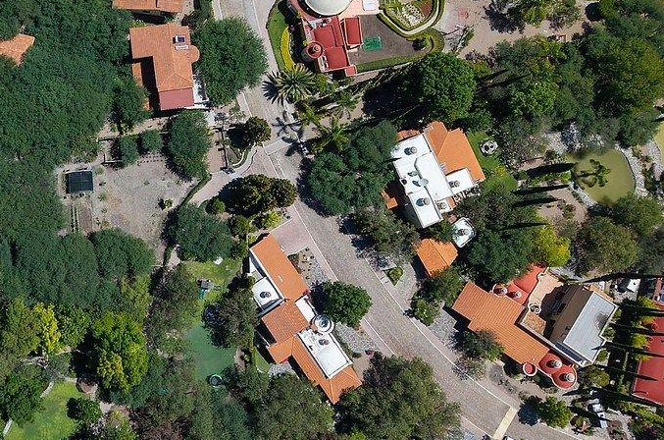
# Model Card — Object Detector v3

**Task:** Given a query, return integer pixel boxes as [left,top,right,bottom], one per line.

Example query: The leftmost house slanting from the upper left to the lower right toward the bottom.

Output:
[245,233,358,402]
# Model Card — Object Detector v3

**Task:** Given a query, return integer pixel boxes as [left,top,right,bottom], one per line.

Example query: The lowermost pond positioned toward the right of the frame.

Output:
[566,148,634,204]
